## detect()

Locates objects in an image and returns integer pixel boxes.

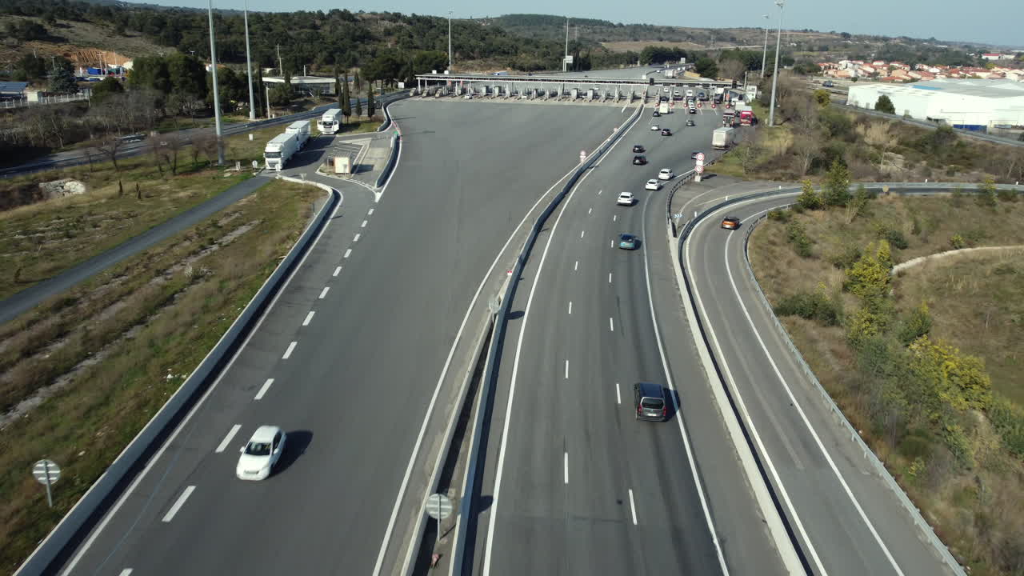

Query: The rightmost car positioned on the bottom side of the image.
[630,379,666,421]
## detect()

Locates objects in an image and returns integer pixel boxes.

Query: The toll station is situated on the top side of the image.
[411,71,749,99]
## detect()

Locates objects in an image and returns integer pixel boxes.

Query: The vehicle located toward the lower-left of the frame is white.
[238,425,291,480]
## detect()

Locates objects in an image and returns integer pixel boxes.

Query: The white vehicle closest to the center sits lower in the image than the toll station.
[618,190,633,204]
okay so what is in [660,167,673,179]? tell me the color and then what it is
white vehicle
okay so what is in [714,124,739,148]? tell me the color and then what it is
white truck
